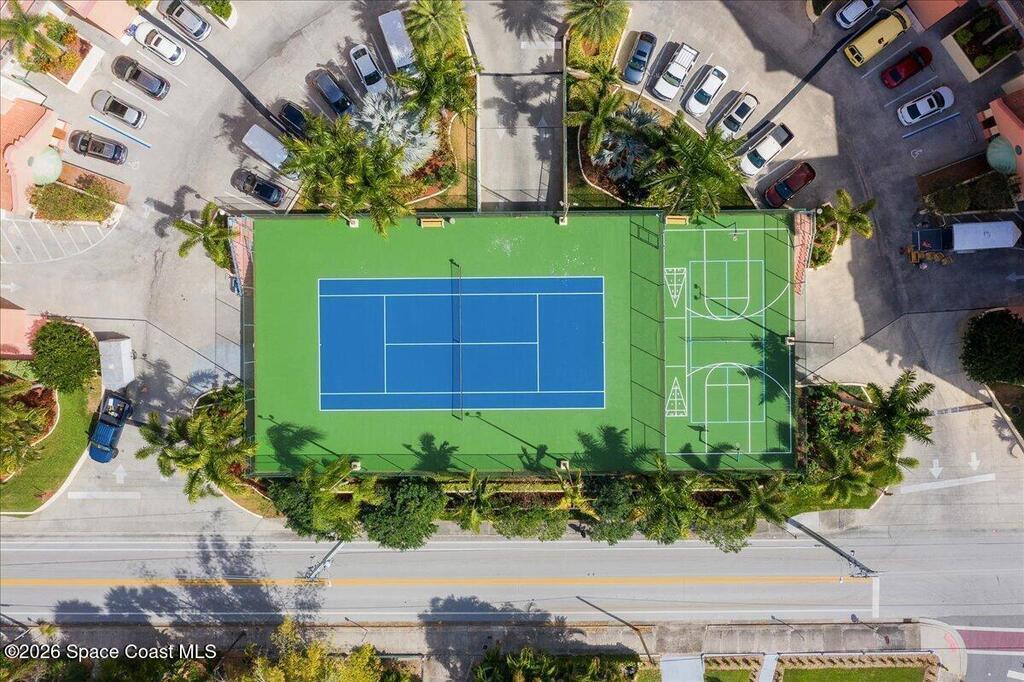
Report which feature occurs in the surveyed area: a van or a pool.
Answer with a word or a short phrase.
van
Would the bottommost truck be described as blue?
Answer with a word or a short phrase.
Yes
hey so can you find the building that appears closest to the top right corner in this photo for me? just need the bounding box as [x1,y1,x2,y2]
[962,81,1024,219]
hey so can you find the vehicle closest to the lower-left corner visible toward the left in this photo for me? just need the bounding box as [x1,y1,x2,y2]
[91,392,135,463]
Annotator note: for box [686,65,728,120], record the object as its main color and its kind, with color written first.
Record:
white car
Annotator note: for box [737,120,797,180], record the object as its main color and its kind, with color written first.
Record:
white truck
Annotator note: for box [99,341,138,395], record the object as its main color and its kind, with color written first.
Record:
white trailer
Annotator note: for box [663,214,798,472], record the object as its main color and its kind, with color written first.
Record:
green basketball court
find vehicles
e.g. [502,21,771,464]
[737,120,797,180]
[879,48,932,90]
[91,392,135,463]
[93,91,150,129]
[231,170,287,209]
[896,87,953,127]
[652,40,702,106]
[762,161,817,209]
[686,65,728,120]
[71,131,129,166]
[716,91,760,142]
[353,44,389,100]
[375,5,418,85]
[157,0,211,42]
[239,123,305,184]
[624,32,656,87]
[134,25,188,69]
[113,58,173,102]
[308,71,359,124]
[831,0,886,34]
[836,8,908,73]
